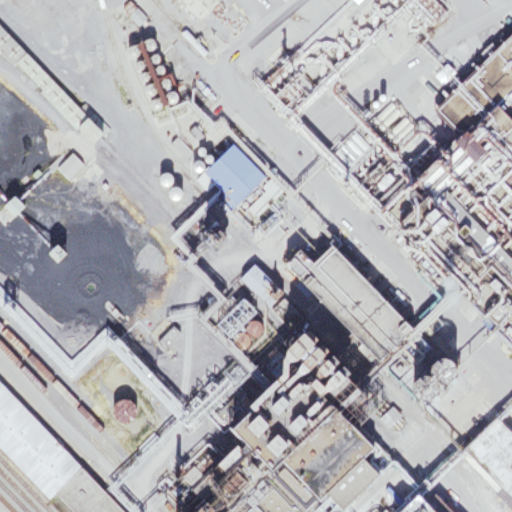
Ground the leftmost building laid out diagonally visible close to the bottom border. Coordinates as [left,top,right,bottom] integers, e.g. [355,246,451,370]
[0,387,80,501]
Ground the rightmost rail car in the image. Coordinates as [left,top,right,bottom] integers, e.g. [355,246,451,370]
[77,404,106,432]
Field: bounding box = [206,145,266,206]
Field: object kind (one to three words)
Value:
building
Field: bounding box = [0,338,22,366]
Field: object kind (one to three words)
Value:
rail car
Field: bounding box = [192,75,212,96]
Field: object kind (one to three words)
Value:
vehicle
